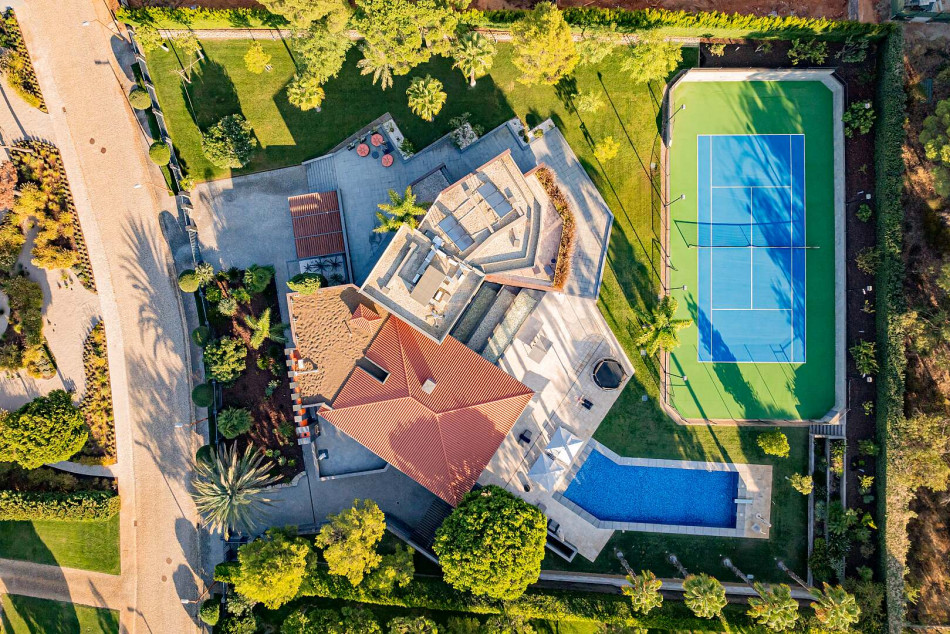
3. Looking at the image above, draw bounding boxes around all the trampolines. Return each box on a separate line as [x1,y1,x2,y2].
[589,356,628,393]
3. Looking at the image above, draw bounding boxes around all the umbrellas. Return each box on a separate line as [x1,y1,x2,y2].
[528,453,564,490]
[546,427,584,465]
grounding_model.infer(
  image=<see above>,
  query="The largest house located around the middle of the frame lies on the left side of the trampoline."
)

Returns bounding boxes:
[285,150,563,507]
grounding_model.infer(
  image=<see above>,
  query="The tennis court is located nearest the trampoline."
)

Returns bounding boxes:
[657,68,848,426]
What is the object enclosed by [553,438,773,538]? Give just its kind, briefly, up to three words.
swimming pool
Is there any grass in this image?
Yes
